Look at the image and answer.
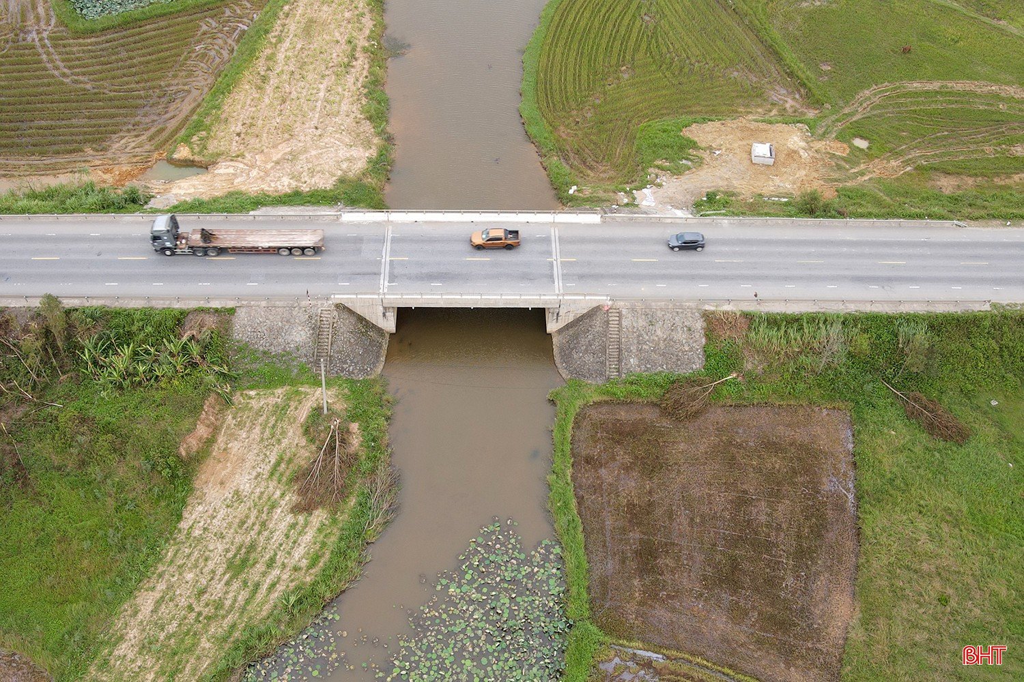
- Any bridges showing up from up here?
Yes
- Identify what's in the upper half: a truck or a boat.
truck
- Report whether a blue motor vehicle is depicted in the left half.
No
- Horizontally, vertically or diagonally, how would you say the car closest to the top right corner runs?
horizontally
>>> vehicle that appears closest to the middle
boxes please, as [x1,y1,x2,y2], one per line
[468,225,519,249]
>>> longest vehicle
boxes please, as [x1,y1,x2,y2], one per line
[147,215,327,256]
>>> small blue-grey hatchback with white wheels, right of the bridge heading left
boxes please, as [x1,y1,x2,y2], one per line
[668,229,709,250]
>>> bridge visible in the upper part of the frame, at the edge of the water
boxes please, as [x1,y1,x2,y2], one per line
[330,210,611,333]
